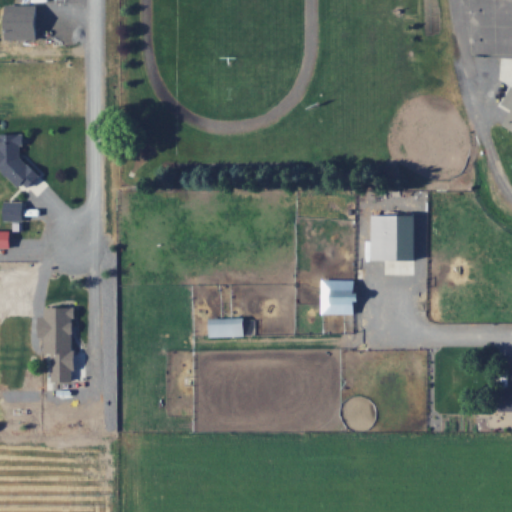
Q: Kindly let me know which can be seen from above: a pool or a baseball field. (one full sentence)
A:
There is a baseball field in the scene.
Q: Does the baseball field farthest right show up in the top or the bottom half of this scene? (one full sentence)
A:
Seen from above, the baseball field farthest right lies in the top half of the view.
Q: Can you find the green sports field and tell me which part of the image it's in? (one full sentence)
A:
You can find the green sports field in the top area of the picture.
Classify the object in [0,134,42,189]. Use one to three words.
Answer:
house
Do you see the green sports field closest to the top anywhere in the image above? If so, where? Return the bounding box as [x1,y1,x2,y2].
[152,0,304,120]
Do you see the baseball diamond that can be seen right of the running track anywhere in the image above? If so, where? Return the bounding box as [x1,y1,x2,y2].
[388,96,472,186]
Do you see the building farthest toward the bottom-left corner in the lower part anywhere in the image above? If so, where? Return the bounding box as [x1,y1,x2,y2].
[37,308,74,382]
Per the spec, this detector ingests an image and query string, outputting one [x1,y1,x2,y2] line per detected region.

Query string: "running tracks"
[140,0,318,134]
